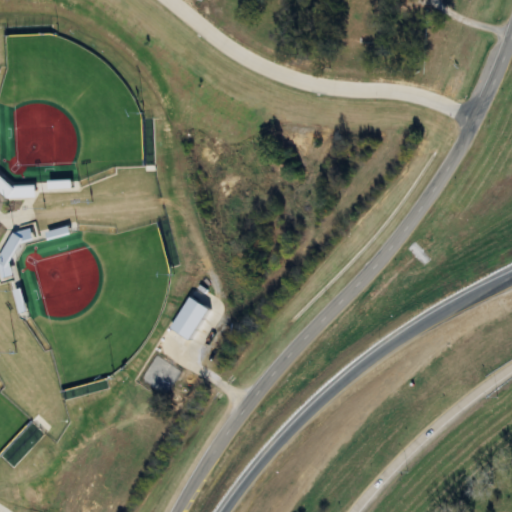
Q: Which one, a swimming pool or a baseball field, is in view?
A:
baseball field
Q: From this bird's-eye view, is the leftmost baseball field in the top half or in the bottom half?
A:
bottom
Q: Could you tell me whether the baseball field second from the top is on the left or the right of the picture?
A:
left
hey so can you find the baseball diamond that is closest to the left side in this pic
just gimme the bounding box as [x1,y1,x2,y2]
[0,390,30,452]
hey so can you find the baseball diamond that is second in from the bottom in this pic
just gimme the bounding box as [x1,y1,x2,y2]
[18,224,172,390]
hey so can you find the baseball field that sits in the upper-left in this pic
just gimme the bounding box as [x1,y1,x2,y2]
[0,35,146,186]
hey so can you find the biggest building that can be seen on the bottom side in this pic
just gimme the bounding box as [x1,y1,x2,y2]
[170,297,210,340]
